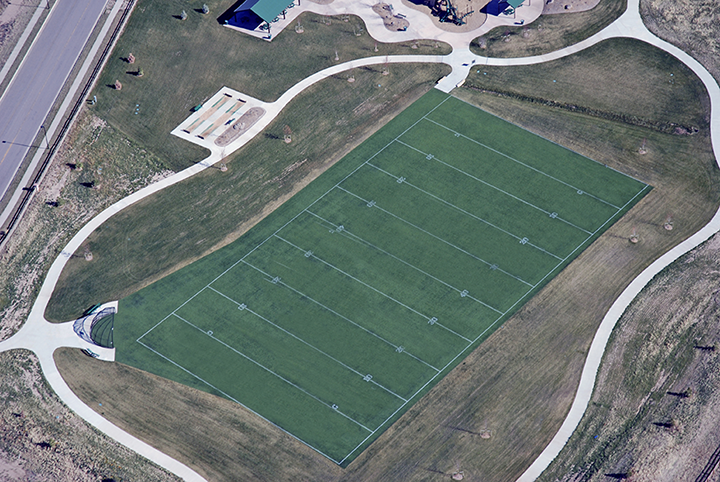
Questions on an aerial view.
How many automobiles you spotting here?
zero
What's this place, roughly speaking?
sports ground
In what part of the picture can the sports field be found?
center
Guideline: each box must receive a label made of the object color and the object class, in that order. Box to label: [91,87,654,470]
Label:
green sports field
